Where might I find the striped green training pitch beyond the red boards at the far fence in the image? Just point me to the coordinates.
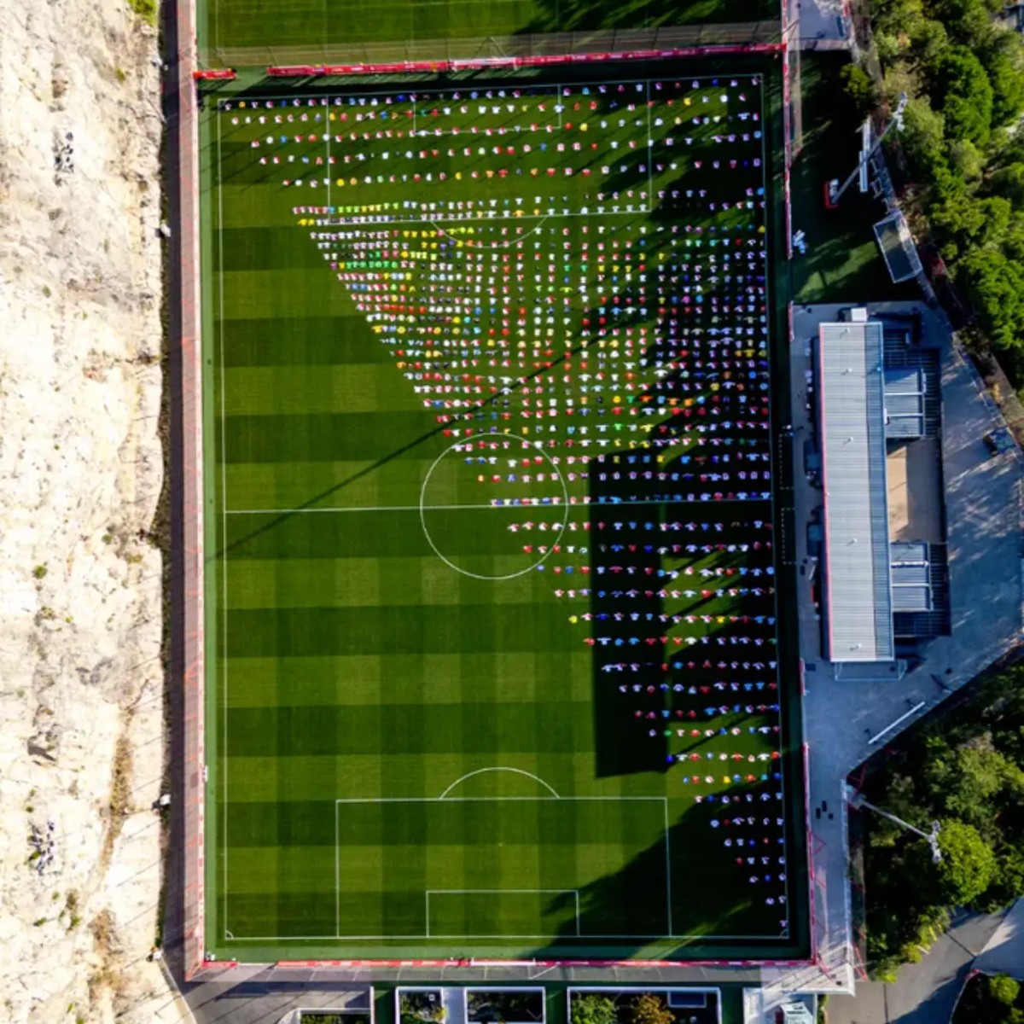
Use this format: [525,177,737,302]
[196,0,783,78]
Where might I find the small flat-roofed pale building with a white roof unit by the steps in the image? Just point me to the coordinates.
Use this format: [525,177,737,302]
[739,981,820,1024]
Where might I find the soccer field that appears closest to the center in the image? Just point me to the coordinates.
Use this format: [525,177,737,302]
[197,51,811,962]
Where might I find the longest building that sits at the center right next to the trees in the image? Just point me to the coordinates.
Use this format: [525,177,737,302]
[804,307,949,663]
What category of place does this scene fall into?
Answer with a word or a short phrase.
sports ground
